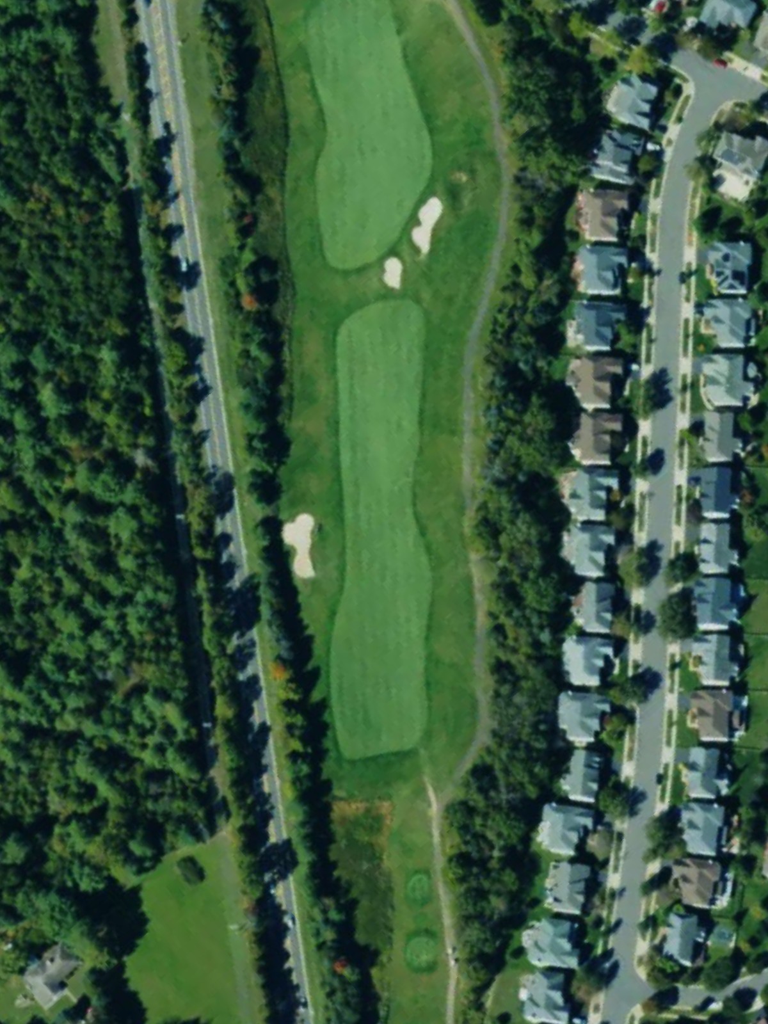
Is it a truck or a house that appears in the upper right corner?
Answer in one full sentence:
Visible in the upper right corner is a house.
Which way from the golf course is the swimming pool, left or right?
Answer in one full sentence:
Looking at the picture, you'll find the swimming pool to the right of the golf course.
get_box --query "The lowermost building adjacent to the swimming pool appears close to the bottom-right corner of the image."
[664,912,703,966]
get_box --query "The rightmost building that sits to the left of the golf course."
[23,941,81,1008]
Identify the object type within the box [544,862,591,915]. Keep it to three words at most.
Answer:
house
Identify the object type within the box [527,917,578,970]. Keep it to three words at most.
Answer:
house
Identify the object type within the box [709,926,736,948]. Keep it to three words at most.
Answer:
swimming pool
